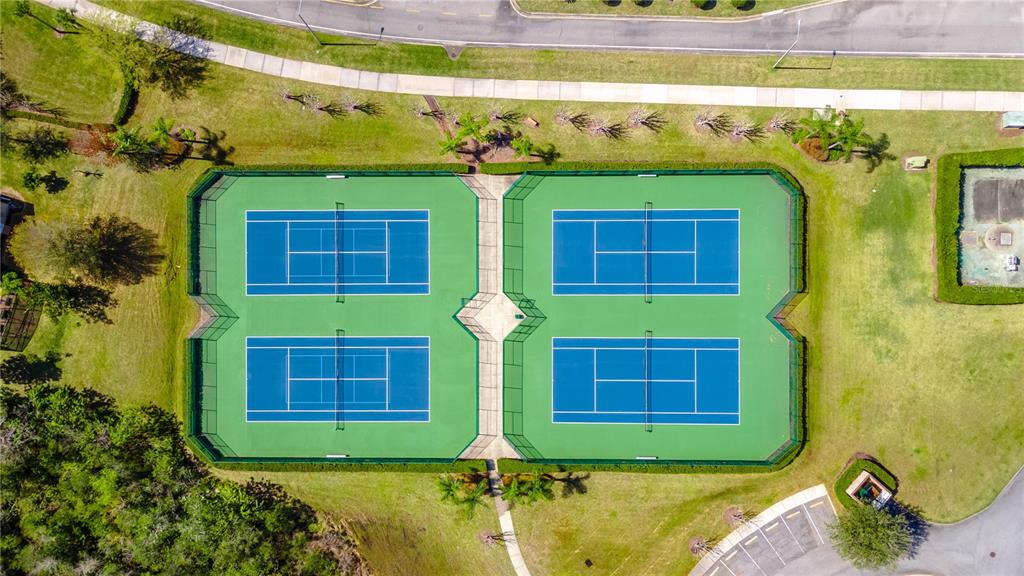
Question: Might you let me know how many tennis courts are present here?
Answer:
four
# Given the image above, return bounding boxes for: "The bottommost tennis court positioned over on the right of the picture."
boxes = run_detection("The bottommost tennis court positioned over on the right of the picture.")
[505,316,789,460]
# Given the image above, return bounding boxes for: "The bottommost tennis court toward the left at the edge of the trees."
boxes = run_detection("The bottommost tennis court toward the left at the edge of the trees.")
[206,316,478,458]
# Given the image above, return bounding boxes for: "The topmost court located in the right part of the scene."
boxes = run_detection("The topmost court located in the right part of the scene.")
[505,173,789,317]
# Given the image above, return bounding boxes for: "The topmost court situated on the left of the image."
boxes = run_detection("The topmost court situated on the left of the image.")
[206,175,477,316]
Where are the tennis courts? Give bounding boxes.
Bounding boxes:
[505,316,789,460]
[206,316,478,458]
[505,173,789,317]
[206,175,477,316]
